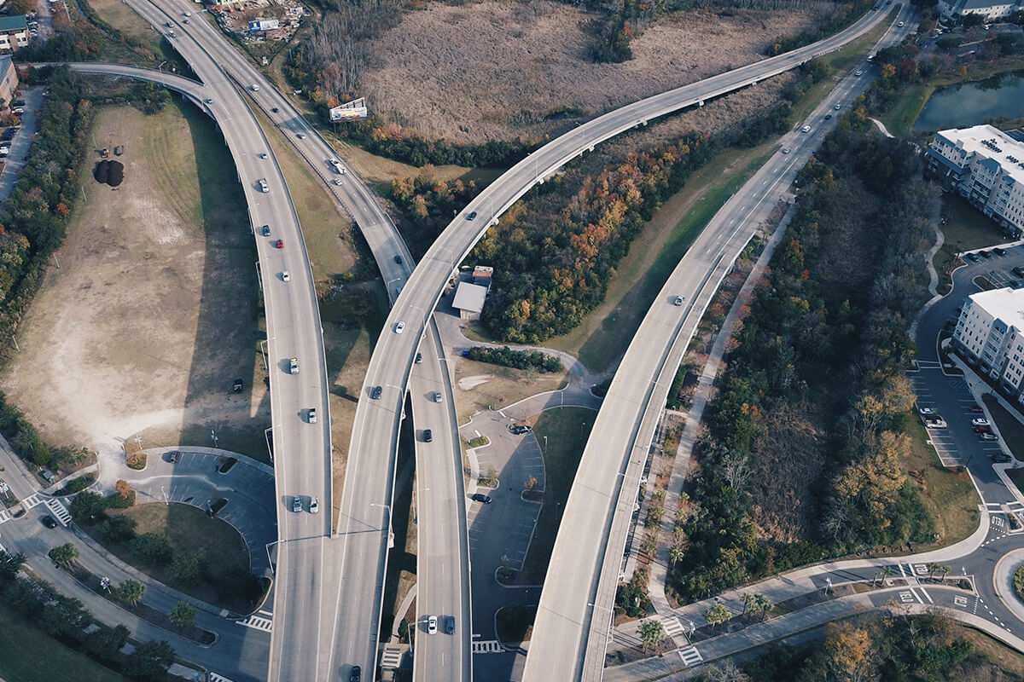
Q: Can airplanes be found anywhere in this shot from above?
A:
No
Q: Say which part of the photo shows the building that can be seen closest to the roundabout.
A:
right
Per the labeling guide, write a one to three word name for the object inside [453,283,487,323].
shed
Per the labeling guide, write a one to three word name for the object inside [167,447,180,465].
vehicle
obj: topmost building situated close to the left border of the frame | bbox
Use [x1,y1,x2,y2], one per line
[0,12,34,48]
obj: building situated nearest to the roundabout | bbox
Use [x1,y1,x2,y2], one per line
[946,286,1024,420]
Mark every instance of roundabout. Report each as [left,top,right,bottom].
[993,548,1024,622]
